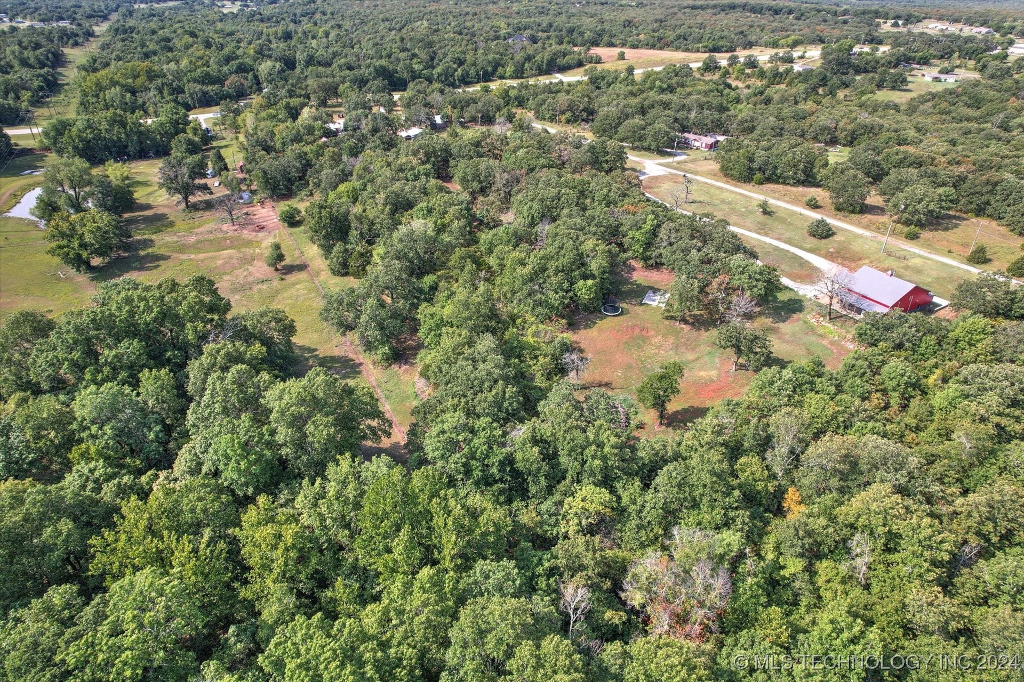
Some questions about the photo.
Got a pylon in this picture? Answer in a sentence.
Yes, there's a pylon down there.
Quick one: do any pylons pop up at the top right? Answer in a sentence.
No, there's no pylon to be seen at the top right.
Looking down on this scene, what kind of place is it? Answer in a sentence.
This looks like a forest.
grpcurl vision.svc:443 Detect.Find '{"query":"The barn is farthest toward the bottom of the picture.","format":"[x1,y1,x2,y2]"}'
[823,267,931,318]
